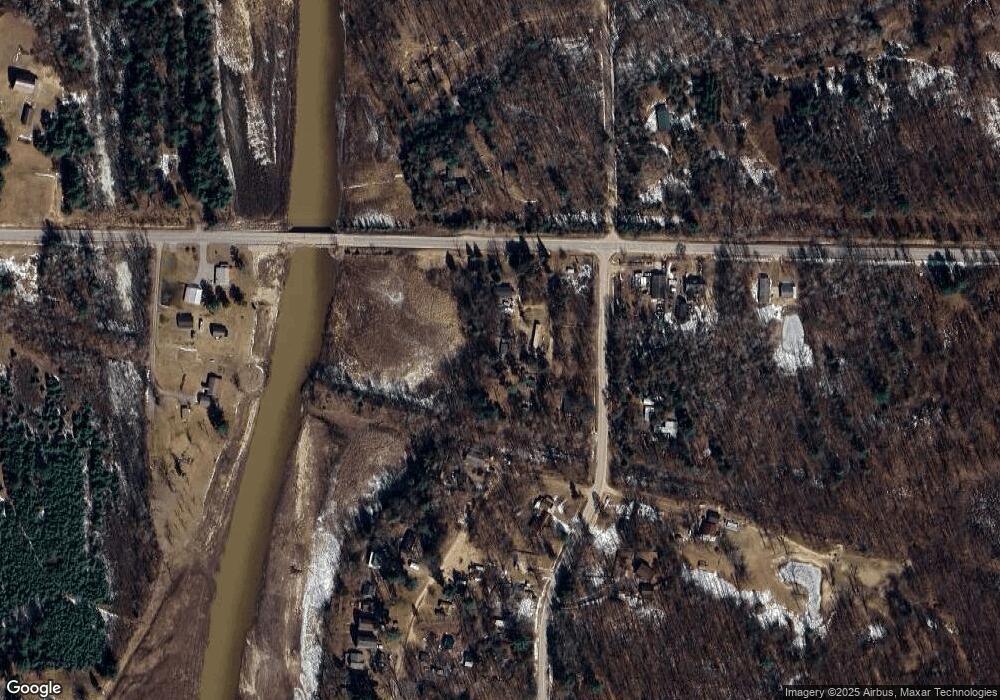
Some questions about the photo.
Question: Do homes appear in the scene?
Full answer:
Yes, the picture does show a home.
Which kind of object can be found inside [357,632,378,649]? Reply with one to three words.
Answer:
house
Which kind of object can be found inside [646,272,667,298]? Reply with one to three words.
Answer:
house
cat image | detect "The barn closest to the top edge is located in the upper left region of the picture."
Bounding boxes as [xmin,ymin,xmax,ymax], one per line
[12,72,36,91]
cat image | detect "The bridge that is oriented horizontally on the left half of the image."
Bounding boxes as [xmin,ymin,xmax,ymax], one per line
[285,230,340,248]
